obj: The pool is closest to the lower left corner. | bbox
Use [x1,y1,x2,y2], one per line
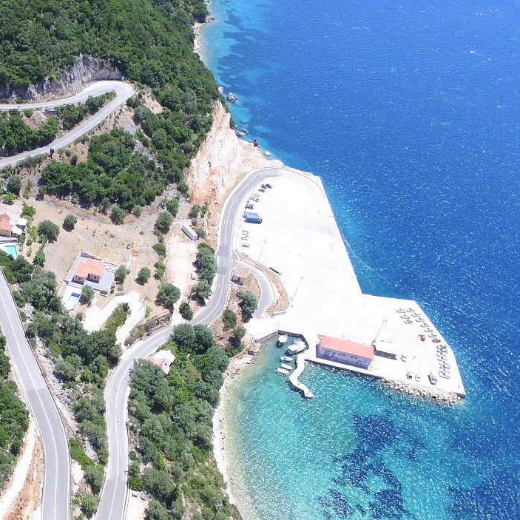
[61,291,80,307]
